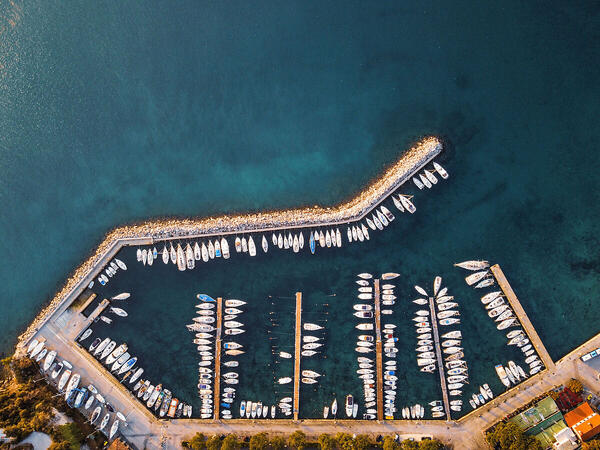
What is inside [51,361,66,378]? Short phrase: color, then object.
white boat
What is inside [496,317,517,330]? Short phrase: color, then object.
white boat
